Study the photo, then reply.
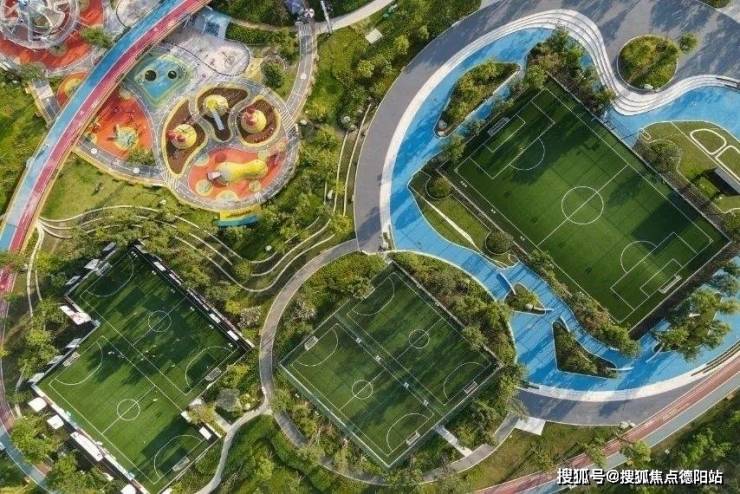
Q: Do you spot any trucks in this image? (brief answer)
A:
No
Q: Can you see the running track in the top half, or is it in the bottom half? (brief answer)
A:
bottom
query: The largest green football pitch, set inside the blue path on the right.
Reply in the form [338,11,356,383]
[438,72,731,335]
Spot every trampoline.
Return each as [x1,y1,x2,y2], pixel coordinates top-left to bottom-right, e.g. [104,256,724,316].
[166,69,178,80]
[143,69,158,82]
